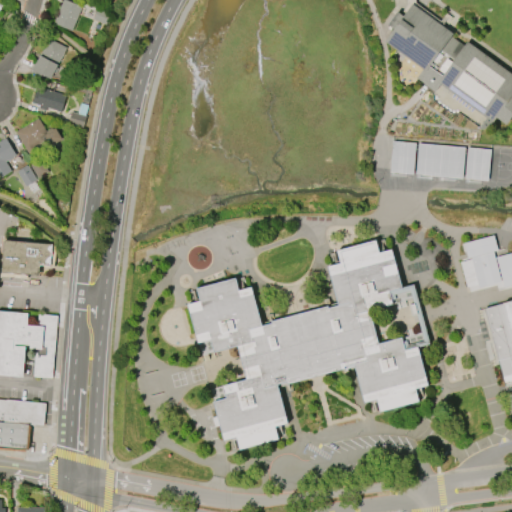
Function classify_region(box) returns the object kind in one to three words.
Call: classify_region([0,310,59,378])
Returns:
building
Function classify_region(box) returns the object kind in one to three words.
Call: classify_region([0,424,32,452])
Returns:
building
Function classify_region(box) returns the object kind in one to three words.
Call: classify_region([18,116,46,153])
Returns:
house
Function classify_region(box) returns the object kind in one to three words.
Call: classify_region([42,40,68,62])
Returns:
house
